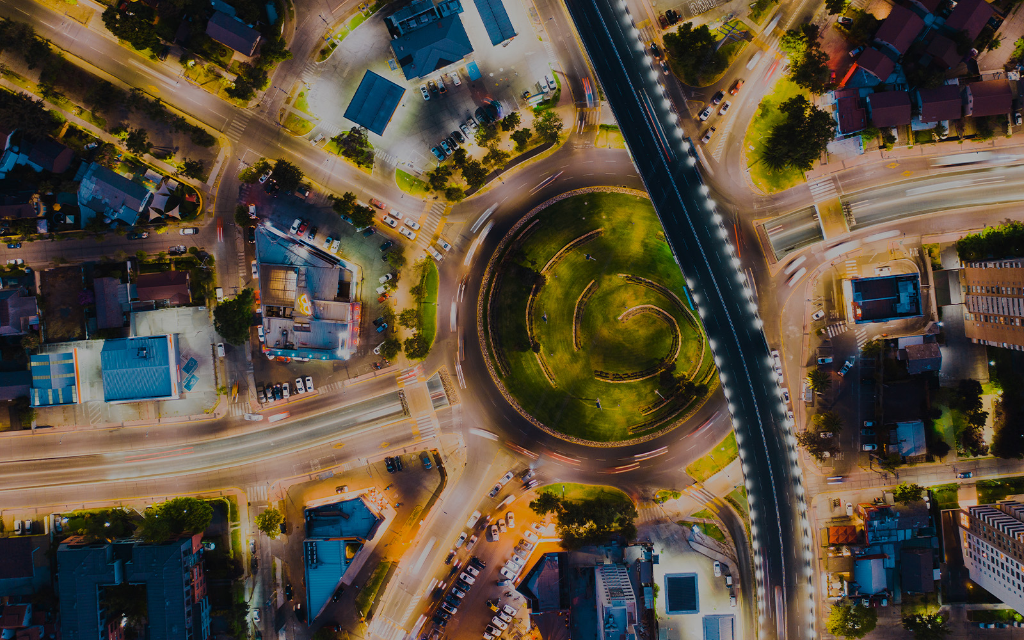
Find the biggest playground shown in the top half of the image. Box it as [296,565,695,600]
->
[118,165,157,192]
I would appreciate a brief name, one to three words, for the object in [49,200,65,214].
umbrella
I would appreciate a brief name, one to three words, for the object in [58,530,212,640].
building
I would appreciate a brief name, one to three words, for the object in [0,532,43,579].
building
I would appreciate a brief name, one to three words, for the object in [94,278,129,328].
house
